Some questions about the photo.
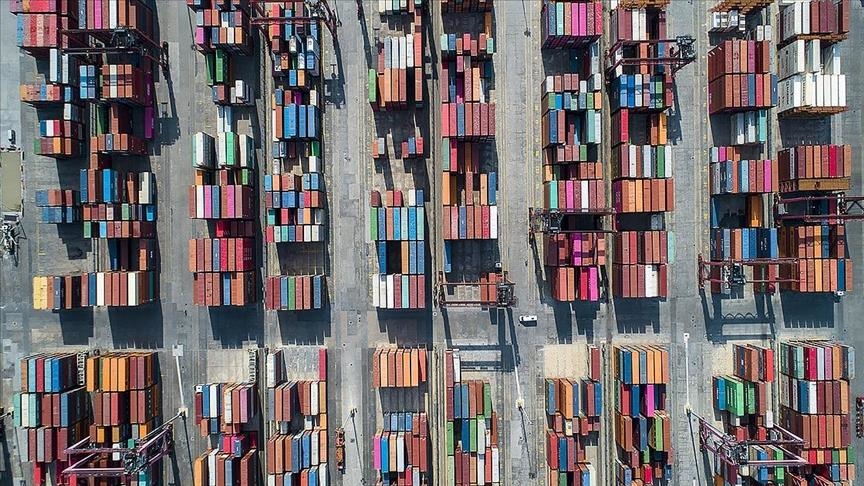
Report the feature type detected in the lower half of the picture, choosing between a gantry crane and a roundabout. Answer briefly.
gantry crane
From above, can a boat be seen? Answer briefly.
No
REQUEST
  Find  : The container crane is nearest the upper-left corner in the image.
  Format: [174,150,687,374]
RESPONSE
[59,25,167,70]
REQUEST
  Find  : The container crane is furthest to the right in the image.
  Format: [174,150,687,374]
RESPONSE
[778,195,864,224]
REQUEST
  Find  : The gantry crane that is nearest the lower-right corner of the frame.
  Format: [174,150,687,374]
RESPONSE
[701,421,807,467]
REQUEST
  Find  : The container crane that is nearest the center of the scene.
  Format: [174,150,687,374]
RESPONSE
[437,274,517,308]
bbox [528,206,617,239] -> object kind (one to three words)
container crane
